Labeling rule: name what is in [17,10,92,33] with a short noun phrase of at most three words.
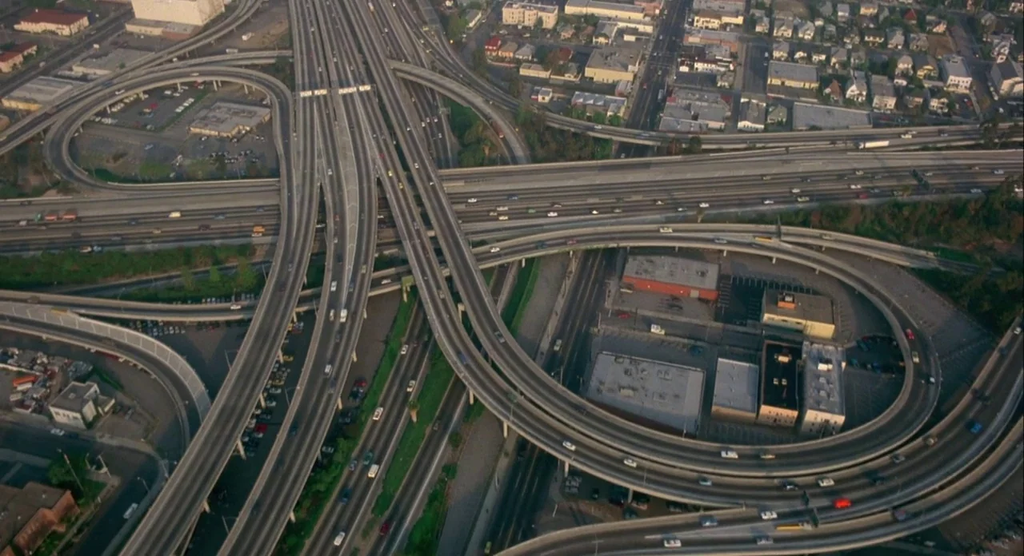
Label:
house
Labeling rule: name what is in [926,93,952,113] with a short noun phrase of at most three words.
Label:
house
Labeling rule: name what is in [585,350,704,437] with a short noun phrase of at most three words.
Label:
building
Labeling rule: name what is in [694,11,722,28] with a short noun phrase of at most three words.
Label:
building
